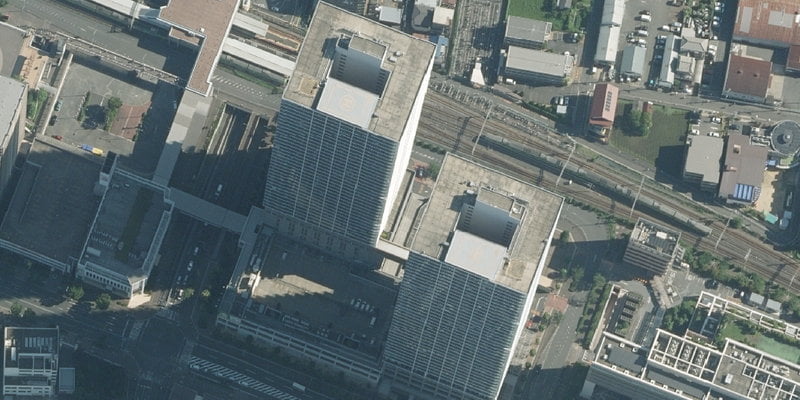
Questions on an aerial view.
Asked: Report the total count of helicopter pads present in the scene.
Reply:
2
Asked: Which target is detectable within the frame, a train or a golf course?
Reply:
train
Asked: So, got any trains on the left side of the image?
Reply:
Yes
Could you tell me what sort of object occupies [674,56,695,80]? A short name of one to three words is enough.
house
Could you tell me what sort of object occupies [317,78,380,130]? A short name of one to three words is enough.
helipad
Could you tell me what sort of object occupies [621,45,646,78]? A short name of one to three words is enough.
shed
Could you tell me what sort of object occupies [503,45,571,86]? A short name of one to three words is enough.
building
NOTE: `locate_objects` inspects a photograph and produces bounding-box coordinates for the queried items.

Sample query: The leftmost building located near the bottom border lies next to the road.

[2,327,59,400]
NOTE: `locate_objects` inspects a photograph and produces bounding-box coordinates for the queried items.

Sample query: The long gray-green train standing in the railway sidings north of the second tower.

[478,135,712,234]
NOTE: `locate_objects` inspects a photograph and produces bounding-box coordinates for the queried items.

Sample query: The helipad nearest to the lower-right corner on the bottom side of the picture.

[445,230,507,284]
